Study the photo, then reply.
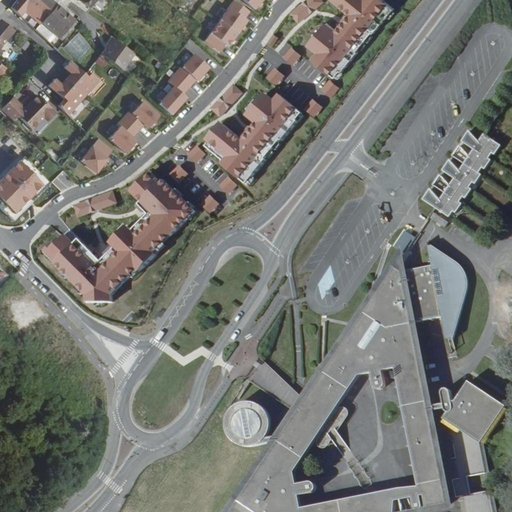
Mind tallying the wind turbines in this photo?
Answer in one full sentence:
The count of wind turbines is 0.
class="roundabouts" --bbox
[56,204,289,512]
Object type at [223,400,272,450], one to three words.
building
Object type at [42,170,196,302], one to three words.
building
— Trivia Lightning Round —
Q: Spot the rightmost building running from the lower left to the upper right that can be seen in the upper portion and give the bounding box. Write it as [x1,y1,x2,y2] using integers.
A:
[421,129,502,217]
